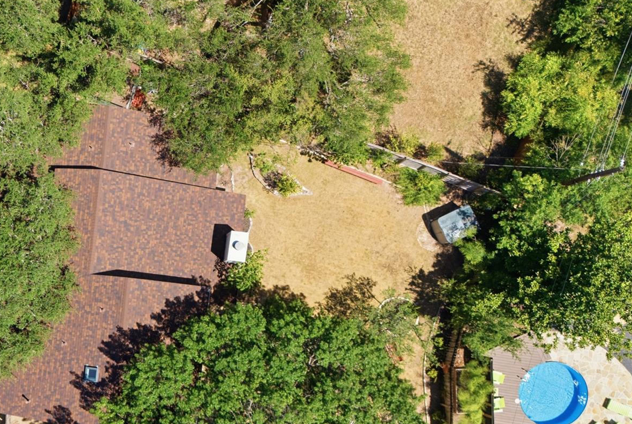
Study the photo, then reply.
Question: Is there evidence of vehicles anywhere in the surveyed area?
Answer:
No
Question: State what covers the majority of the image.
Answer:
trees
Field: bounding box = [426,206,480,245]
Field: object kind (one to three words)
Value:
shed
